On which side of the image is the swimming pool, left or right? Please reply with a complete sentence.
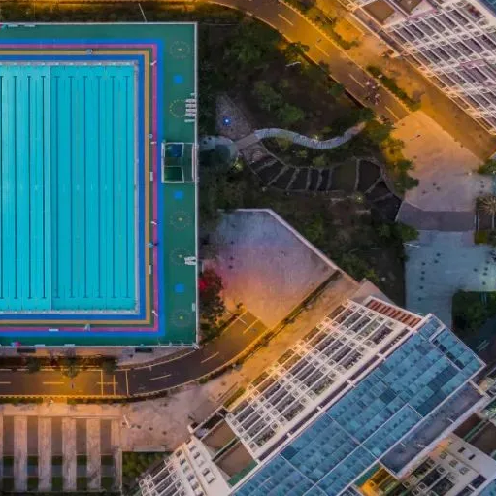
The swimming pool is on the left side of the image.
